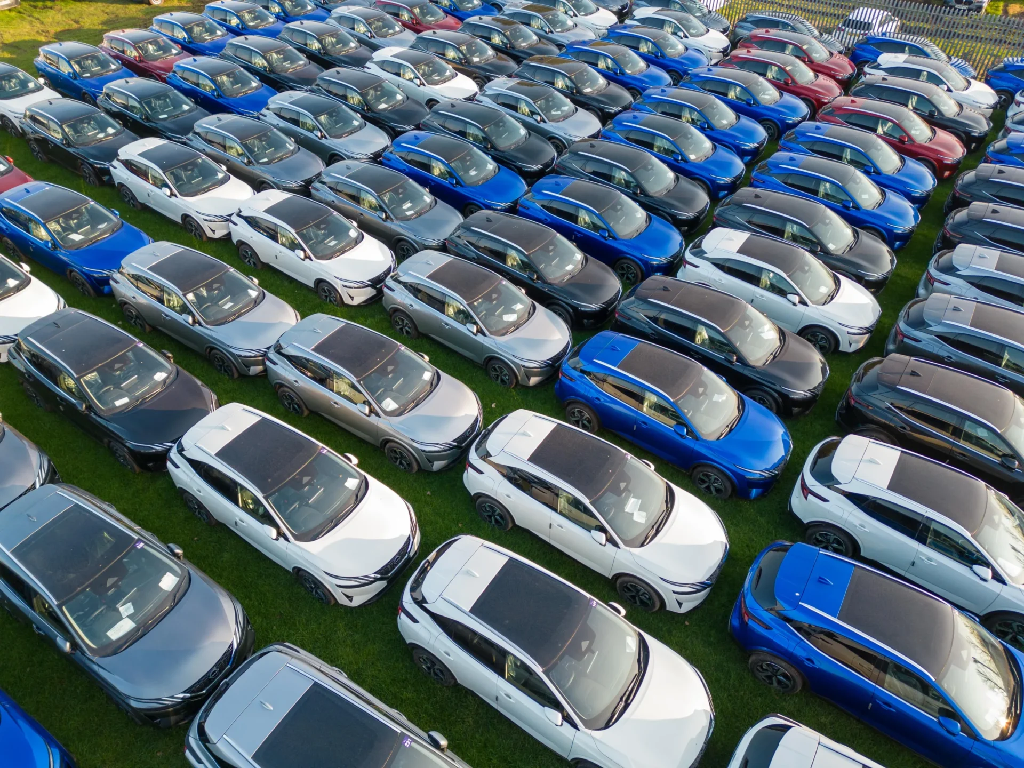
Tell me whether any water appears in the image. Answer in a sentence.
No, there's no water in this view.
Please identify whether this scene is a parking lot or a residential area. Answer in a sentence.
This looks like a parking lot.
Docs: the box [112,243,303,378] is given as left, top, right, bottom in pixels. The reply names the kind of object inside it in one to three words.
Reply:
car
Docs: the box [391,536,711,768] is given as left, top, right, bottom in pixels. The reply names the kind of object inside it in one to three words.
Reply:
car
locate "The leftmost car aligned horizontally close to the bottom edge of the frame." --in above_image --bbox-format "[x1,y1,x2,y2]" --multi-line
[181,647,469,768]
